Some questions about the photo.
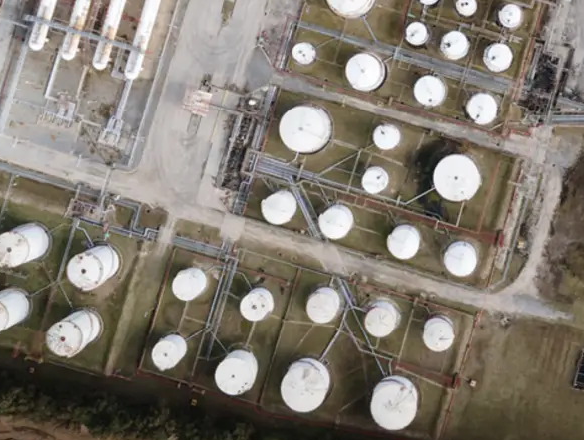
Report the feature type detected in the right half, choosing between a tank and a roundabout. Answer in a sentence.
It is a tank that can be seen in the right half.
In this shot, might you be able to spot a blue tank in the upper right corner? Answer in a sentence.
No, no blue tank is visible in the upper right corner.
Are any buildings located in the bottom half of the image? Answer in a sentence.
No, looking in the bottom half of the image, there is no building.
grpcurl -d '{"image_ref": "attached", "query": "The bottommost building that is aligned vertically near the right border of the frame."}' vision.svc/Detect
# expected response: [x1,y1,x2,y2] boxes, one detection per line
[524,45,570,126]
